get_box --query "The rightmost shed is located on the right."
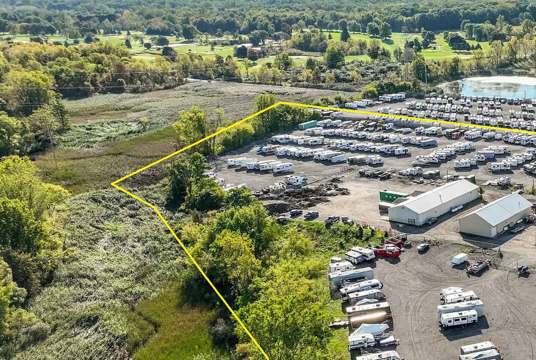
[457,196,533,237]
